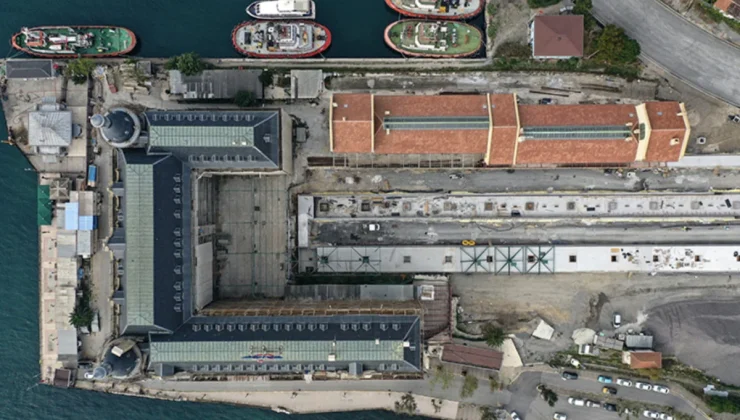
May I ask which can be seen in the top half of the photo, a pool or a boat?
boat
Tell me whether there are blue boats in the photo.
No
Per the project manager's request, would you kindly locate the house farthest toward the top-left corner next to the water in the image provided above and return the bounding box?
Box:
[7,60,59,81]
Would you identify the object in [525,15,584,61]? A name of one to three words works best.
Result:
house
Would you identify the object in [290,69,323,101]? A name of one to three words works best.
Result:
building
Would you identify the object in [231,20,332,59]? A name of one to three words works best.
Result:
boat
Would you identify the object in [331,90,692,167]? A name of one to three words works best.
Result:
building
